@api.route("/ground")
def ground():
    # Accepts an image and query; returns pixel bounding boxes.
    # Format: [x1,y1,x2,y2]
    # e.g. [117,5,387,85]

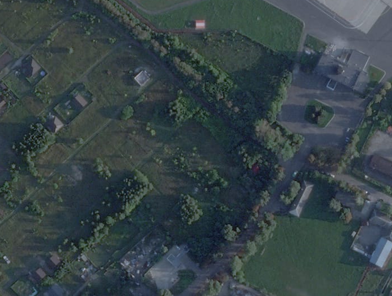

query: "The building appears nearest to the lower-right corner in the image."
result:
[370,238,392,268]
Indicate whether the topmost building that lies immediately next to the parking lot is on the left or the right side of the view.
right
